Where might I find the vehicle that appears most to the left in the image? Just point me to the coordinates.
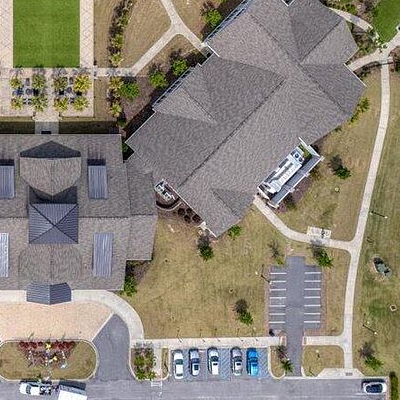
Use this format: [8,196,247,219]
[18,381,50,395]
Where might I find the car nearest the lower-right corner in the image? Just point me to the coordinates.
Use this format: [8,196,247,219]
[362,380,387,394]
